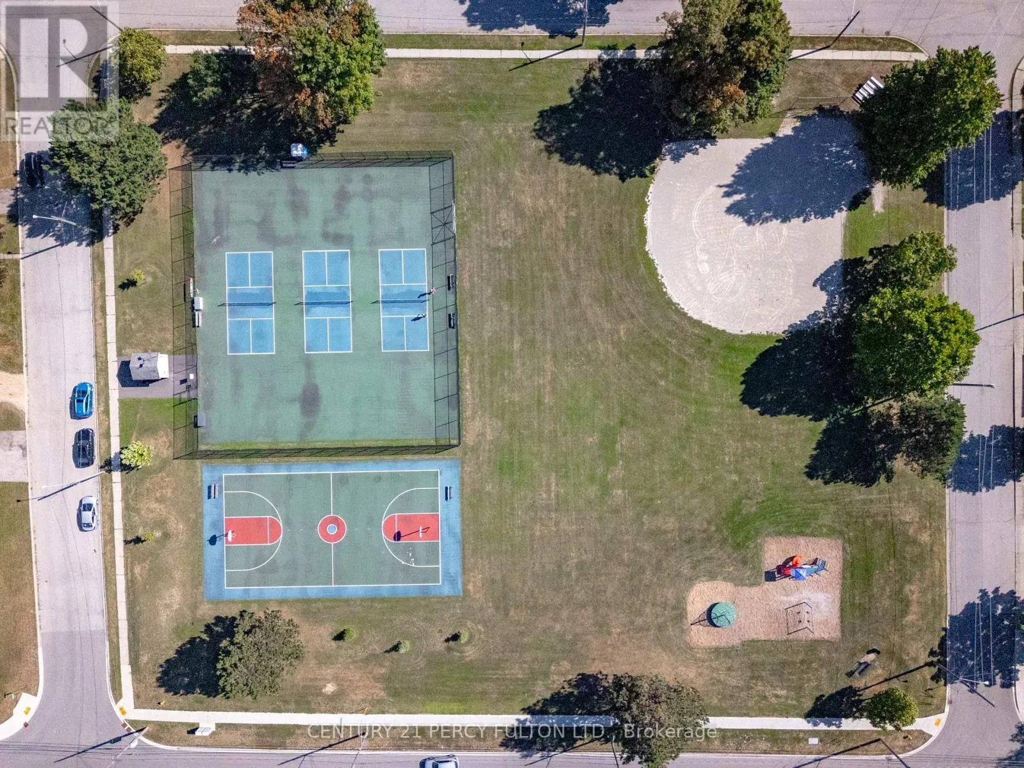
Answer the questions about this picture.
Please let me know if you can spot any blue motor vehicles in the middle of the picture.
No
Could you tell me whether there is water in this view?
No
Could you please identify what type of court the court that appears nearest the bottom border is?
basketball court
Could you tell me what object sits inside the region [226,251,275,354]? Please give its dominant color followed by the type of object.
blue sports court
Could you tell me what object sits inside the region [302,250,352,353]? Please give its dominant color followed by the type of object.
blue sports court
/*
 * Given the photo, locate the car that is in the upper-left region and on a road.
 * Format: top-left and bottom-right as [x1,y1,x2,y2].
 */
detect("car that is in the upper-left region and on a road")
[20,149,43,187]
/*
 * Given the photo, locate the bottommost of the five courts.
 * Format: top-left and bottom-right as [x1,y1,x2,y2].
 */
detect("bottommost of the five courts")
[202,459,462,600]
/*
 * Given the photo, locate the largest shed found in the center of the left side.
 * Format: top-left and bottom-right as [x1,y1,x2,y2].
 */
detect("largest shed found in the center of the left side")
[127,352,168,380]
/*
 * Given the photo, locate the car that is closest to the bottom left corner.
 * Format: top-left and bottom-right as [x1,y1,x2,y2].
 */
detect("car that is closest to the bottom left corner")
[79,496,99,532]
